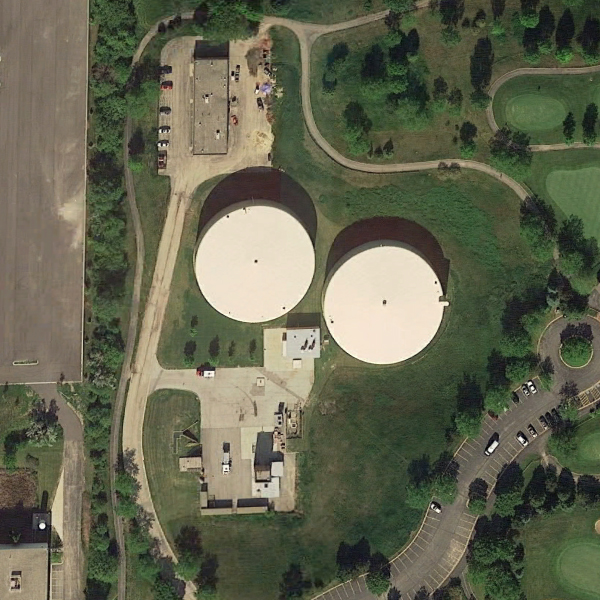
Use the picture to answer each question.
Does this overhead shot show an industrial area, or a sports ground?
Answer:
industrial area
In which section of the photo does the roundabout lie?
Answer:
right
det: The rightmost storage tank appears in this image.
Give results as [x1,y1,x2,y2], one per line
[322,238,450,364]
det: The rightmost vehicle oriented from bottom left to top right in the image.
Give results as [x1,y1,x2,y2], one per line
[485,437,500,454]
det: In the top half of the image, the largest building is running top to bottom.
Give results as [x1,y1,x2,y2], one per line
[193,56,229,154]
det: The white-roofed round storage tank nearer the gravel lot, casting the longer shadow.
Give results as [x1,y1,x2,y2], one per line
[194,196,317,323]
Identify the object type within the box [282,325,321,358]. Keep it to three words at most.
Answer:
building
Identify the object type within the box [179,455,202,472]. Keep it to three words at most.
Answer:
building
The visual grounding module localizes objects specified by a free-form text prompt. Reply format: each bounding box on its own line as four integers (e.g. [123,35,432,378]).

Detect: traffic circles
[537,309,600,384]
